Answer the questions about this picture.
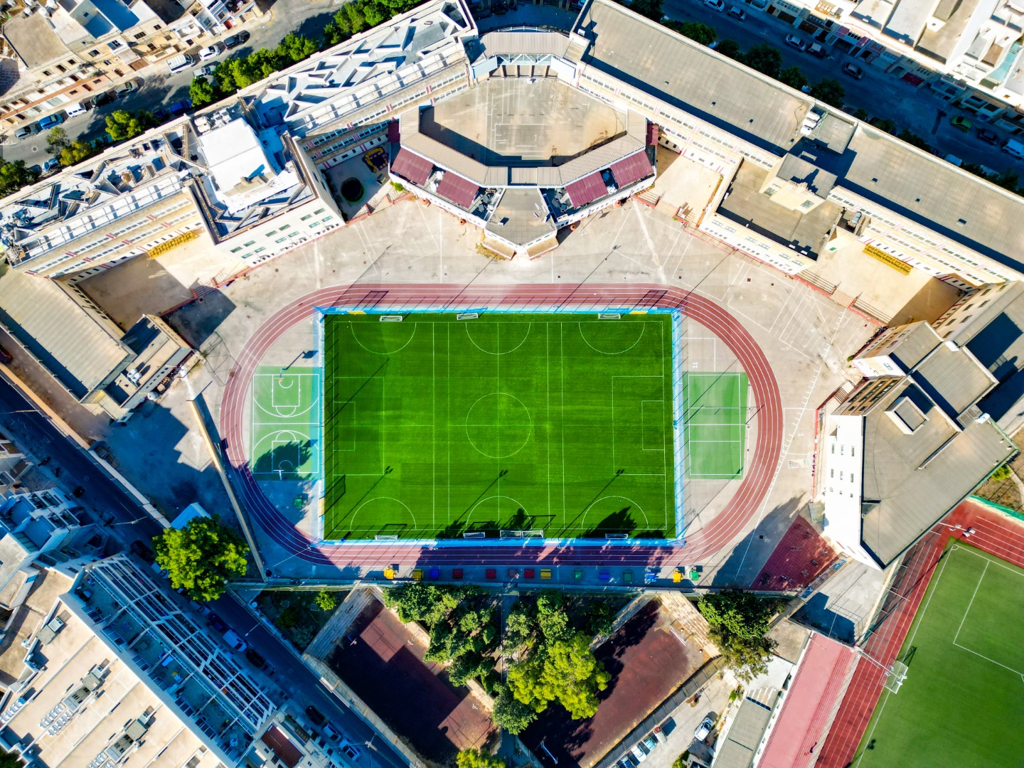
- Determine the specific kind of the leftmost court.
basketball court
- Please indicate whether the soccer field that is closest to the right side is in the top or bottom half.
bottom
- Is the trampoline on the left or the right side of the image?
left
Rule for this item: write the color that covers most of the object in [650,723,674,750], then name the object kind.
white truck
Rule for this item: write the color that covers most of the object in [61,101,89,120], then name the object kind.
white vehicle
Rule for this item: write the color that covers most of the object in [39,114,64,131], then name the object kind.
blue car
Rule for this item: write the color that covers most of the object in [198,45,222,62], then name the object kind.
white car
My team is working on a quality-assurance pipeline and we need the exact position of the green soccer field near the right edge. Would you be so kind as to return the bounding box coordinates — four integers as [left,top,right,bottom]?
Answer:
[849,538,1024,768]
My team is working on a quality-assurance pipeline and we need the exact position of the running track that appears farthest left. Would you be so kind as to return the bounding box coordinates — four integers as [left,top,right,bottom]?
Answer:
[222,284,784,566]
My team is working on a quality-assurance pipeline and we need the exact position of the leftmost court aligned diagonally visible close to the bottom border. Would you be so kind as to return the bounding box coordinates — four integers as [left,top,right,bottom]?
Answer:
[327,596,500,768]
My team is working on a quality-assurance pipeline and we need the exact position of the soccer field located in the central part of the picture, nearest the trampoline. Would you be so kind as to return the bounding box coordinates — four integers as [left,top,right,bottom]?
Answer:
[317,307,684,546]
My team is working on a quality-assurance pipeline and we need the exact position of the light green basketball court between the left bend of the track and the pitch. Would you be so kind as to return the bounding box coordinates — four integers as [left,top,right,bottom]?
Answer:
[252,367,319,480]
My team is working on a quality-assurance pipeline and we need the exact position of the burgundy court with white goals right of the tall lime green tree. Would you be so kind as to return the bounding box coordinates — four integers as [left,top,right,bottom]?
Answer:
[518,601,709,768]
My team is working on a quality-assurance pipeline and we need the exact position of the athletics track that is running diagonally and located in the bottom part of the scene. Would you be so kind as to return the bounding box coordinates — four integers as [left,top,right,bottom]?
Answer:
[815,499,1024,768]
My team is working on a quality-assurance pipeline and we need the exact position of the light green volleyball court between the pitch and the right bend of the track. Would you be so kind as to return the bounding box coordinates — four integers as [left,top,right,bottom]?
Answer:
[684,372,748,480]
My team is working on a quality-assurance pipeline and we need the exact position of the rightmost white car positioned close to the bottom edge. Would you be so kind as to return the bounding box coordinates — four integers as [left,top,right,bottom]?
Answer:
[694,715,716,742]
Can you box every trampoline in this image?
[340,177,363,201]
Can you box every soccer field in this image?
[849,538,1024,768]
[317,307,684,546]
